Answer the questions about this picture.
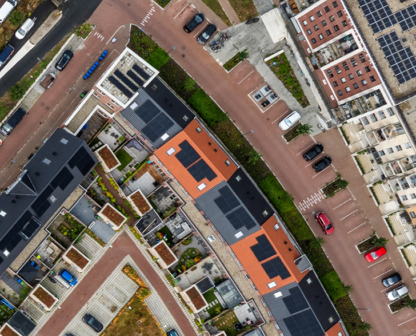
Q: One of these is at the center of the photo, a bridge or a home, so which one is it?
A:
home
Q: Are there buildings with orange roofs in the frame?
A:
Yes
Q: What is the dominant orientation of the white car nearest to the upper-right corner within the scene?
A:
on a diagonal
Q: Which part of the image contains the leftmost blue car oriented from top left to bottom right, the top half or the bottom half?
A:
bottom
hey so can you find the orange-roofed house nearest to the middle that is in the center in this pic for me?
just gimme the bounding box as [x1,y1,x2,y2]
[145,117,240,200]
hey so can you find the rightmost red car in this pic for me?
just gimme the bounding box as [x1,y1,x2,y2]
[361,247,388,263]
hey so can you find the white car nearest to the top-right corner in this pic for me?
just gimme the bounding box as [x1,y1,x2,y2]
[277,109,302,131]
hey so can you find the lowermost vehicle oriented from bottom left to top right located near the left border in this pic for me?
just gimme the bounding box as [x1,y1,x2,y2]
[0,108,25,138]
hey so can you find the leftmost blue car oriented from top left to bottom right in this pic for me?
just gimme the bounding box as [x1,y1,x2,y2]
[57,266,79,288]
